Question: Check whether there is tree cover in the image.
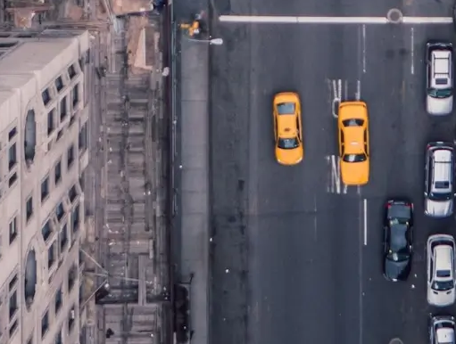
No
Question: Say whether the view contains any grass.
No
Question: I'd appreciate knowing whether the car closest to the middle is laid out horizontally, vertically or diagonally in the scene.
vertically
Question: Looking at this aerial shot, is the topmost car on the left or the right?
right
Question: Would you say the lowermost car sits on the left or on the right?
right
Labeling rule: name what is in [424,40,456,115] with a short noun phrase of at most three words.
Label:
car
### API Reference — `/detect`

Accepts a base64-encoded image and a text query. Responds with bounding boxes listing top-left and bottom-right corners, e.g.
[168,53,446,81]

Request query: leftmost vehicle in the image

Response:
[272,89,306,165]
